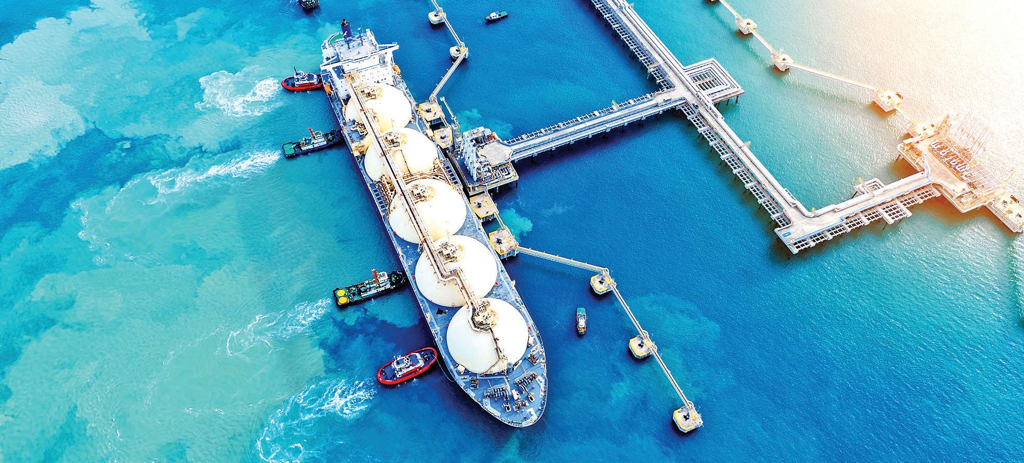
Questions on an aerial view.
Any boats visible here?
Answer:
Yes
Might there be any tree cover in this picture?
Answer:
No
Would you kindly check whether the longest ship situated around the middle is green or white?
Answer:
white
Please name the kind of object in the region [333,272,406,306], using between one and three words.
boat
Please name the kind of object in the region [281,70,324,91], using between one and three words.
boat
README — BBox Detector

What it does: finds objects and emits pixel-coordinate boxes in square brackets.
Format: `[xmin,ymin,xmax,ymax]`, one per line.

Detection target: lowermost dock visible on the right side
[771,167,940,265]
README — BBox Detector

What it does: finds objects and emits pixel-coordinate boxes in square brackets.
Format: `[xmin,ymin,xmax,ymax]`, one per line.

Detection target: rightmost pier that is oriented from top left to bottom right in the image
[586,0,824,255]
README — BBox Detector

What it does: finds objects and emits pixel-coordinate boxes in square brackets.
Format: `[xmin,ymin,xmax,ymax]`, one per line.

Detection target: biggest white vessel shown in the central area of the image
[314,16,548,428]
